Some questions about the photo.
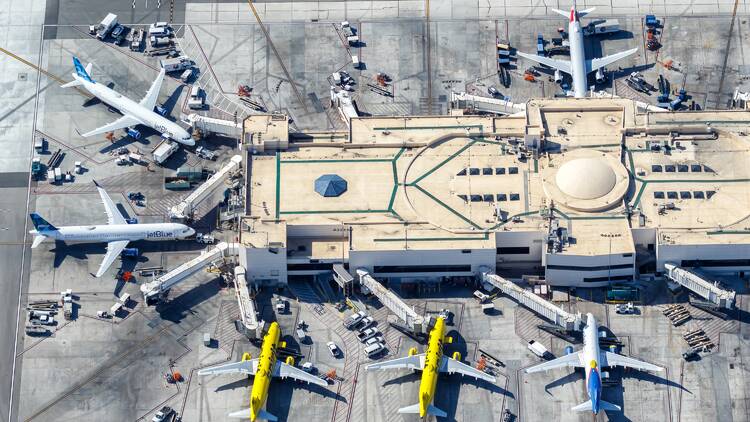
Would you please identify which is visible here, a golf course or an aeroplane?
aeroplane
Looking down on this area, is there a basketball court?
No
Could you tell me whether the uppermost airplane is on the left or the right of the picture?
right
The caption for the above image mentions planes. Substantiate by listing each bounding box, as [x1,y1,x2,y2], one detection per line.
[365,319,496,420]
[62,58,196,147]
[517,0,638,98]
[525,313,664,415]
[29,179,196,277]
[198,323,329,422]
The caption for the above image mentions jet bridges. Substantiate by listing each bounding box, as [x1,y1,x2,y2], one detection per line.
[177,116,242,147]
[478,267,584,338]
[661,261,744,317]
[133,244,241,308]
[584,88,666,111]
[233,262,266,342]
[446,94,527,115]
[352,265,434,338]
[325,87,362,129]
[163,157,243,225]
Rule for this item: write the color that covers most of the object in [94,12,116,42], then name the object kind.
white truck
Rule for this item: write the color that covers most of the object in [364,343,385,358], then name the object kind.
white vehicle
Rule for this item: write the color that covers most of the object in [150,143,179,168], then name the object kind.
white truck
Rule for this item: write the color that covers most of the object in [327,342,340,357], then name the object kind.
white vehicle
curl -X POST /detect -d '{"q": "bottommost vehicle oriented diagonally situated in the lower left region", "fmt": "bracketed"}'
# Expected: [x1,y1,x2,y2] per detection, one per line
[152,404,172,421]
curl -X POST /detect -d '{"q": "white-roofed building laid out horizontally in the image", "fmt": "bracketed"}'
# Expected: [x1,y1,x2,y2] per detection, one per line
[240,97,750,289]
